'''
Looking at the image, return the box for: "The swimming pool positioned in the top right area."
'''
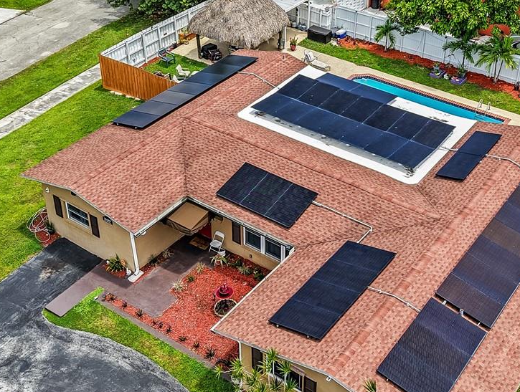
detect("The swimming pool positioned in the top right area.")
[350,74,505,123]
